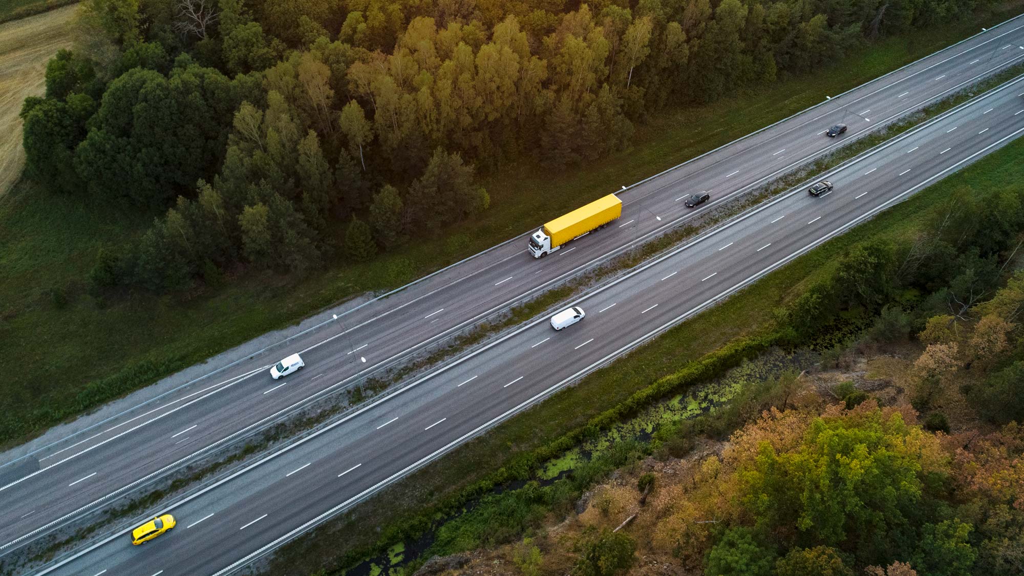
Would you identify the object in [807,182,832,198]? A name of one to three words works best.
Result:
car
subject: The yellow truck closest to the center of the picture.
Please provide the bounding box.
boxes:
[528,194,622,257]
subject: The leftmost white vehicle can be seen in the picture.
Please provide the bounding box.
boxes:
[272,353,306,379]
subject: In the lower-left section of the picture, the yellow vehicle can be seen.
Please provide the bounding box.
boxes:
[130,513,176,545]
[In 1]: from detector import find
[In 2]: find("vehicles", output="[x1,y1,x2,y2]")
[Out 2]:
[685,191,710,209]
[272,353,306,379]
[552,306,587,330]
[528,194,622,257]
[826,123,848,138]
[807,182,832,198]
[130,513,176,545]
